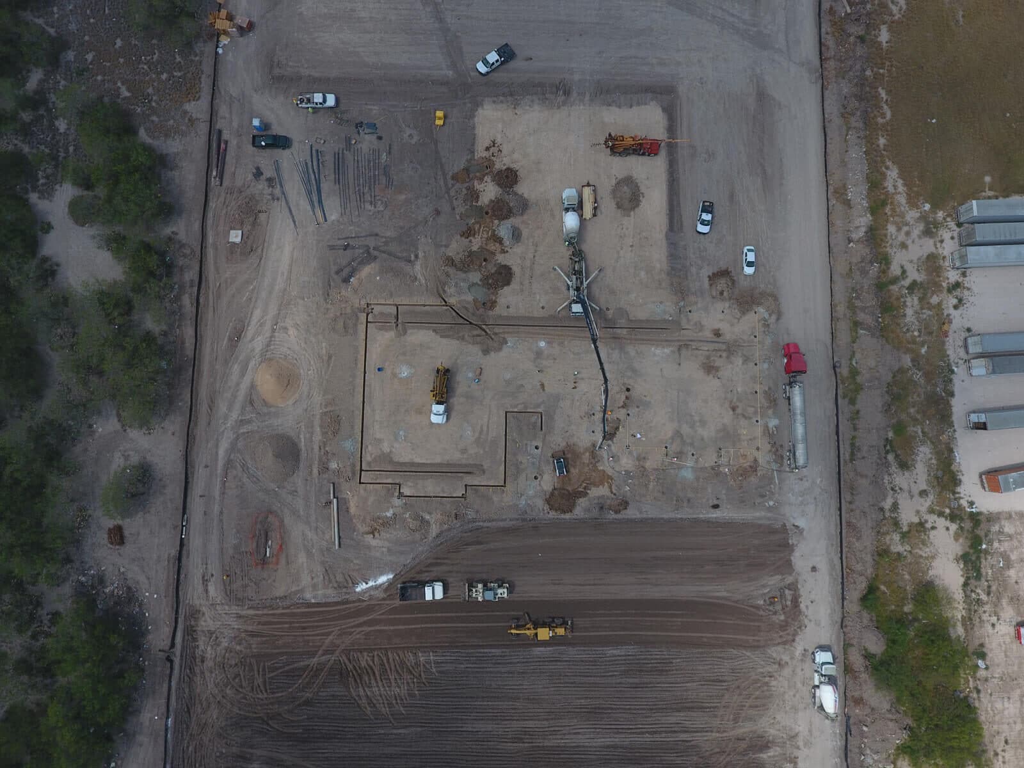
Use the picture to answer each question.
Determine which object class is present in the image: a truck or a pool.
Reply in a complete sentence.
Looking from above, you can make out a truck.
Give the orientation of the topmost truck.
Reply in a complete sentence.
In this picture, the topmost truck lies diagonally.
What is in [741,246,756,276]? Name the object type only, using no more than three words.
car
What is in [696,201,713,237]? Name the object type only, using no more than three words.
vehicle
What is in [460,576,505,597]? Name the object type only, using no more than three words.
work vehicle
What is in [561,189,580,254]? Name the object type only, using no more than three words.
vehicle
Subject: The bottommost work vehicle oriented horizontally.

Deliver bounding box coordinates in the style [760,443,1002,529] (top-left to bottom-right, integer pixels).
[508,614,574,639]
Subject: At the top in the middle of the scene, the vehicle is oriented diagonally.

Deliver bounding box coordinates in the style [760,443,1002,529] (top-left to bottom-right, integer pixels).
[476,39,515,72]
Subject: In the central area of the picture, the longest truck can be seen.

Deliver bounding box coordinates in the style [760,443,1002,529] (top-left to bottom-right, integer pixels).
[552,248,609,449]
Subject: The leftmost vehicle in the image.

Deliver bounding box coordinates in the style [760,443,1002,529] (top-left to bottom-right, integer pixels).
[252,134,293,150]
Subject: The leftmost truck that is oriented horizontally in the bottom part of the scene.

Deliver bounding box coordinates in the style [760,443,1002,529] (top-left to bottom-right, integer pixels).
[399,578,446,599]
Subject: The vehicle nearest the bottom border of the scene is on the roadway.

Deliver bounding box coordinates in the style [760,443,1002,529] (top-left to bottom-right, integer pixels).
[812,650,835,718]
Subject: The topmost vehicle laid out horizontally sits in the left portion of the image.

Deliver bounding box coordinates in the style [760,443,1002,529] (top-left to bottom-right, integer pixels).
[296,91,336,108]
